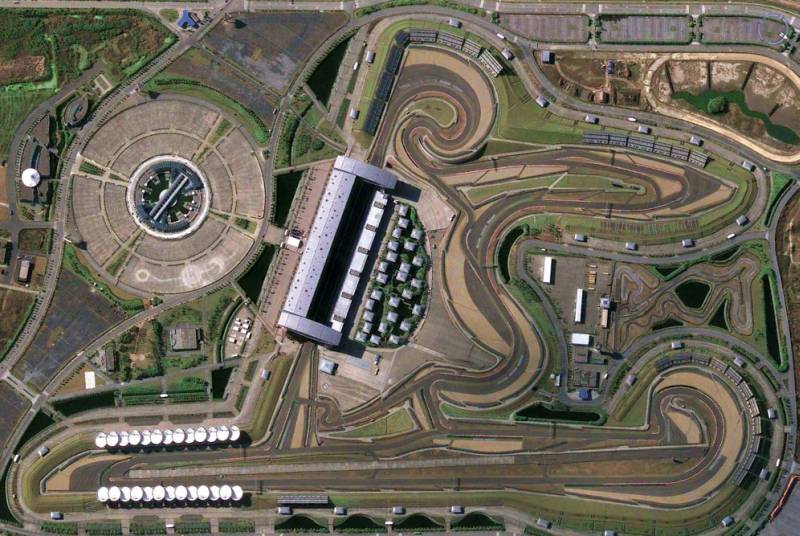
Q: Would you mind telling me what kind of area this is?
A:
sports ground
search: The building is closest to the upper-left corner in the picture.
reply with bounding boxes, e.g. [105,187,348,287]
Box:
[62,94,88,126]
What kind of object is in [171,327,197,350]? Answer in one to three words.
building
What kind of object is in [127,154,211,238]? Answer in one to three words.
building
